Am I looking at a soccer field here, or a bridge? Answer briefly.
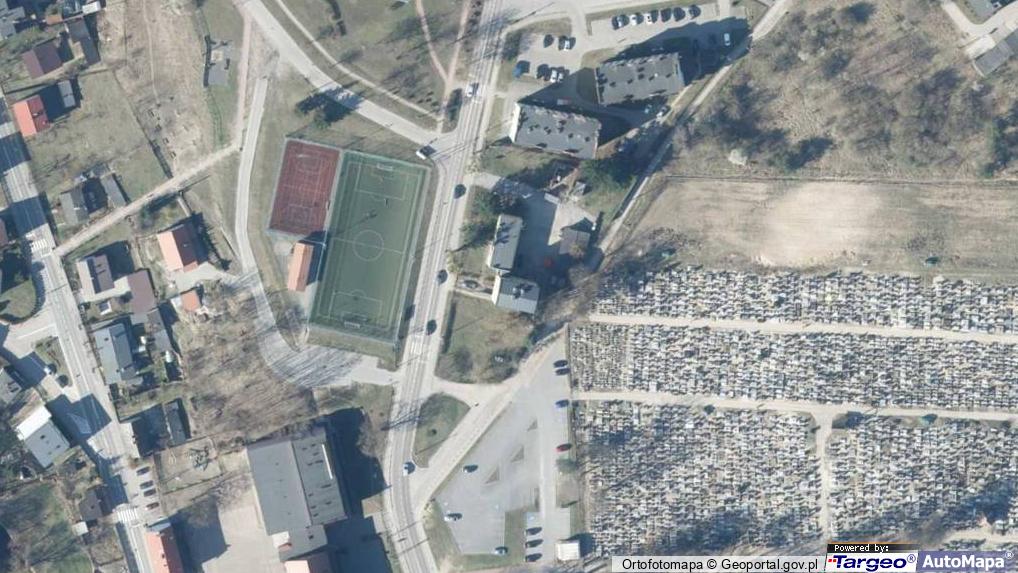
soccer field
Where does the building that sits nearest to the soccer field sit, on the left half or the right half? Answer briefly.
left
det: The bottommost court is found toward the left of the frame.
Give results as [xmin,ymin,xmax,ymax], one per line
[268,141,340,240]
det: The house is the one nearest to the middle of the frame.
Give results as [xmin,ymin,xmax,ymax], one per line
[495,276,539,314]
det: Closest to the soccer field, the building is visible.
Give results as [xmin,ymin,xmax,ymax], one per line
[288,243,314,291]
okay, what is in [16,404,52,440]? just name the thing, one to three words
building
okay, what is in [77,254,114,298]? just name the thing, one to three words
house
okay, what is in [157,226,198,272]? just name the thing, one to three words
house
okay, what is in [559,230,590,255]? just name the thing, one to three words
shed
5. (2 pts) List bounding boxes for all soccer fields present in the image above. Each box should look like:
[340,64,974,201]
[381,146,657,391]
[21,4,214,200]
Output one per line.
[310,153,429,341]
